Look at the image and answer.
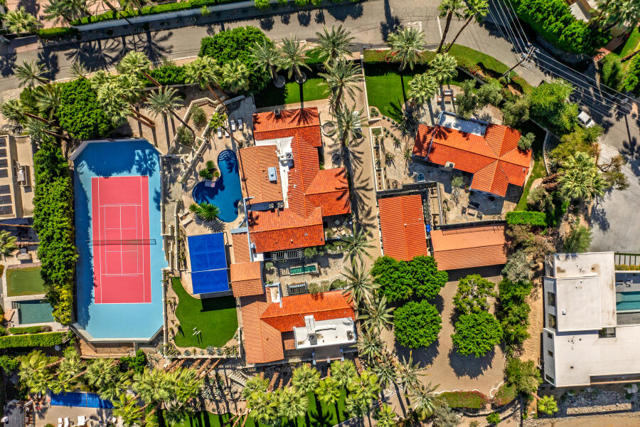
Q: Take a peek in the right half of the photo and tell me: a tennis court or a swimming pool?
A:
swimming pool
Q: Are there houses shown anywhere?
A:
Yes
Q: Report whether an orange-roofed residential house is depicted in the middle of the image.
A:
Yes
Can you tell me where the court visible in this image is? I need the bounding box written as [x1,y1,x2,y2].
[75,139,166,340]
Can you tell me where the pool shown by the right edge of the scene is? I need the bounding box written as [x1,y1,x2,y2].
[616,288,640,312]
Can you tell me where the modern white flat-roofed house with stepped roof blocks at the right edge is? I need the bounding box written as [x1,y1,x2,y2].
[542,250,640,387]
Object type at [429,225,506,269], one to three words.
shed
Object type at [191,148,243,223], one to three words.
swimming pool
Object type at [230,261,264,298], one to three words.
building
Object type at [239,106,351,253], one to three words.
house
